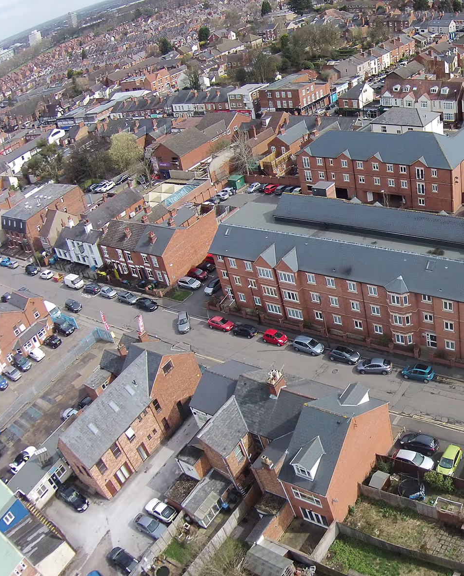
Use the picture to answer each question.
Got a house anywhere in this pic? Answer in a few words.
Yes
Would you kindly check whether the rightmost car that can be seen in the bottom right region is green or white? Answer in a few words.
green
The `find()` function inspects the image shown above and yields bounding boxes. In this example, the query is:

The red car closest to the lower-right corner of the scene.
[262,328,289,345]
